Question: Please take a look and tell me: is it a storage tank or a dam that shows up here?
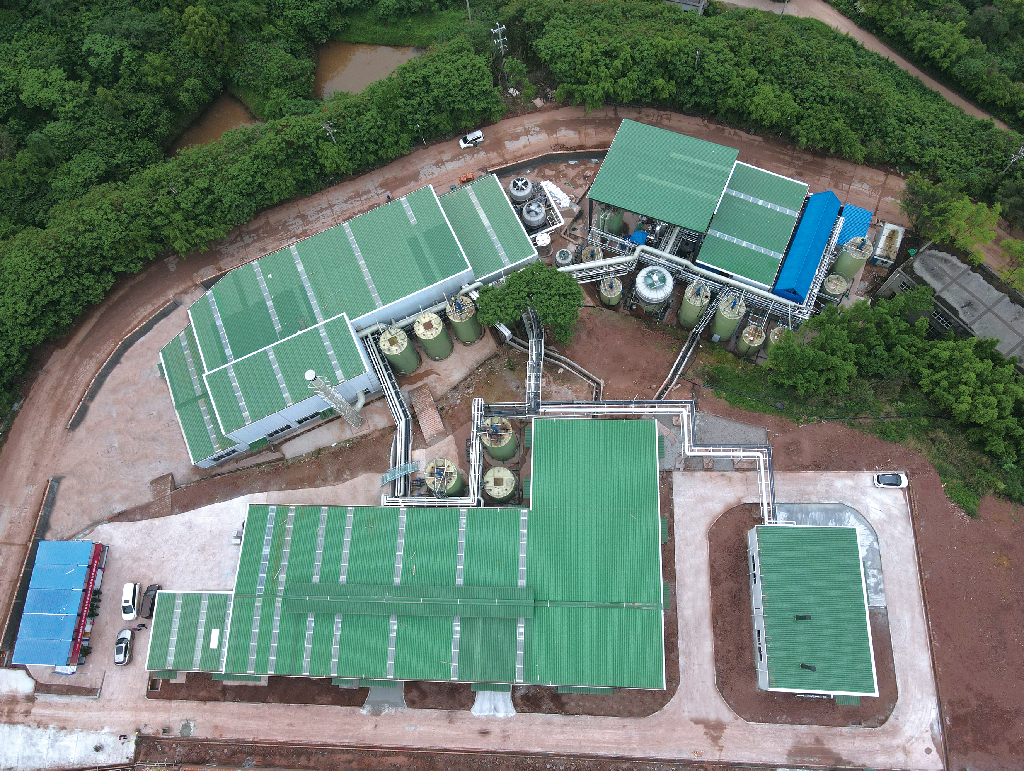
storage tank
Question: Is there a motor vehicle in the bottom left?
Yes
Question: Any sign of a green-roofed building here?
Yes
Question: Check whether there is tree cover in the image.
Yes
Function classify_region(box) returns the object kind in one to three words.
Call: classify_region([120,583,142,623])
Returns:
car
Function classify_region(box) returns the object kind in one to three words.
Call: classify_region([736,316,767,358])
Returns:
storage tank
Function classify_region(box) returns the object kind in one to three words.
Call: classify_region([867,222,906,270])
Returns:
building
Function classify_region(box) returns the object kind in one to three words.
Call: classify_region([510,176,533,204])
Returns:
cooling tower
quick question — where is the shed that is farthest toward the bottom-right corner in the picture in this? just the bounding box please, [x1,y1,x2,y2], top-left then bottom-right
[749,524,881,711]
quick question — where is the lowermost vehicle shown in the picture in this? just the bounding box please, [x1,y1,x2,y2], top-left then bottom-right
[114,629,137,668]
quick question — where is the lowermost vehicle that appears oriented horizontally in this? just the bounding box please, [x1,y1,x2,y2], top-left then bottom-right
[872,473,907,490]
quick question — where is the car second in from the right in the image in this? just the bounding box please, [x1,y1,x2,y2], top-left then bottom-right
[457,128,486,152]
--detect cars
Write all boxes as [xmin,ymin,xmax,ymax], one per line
[457,128,486,152]
[114,629,137,668]
[872,473,907,490]
[138,584,162,622]
[120,583,142,623]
